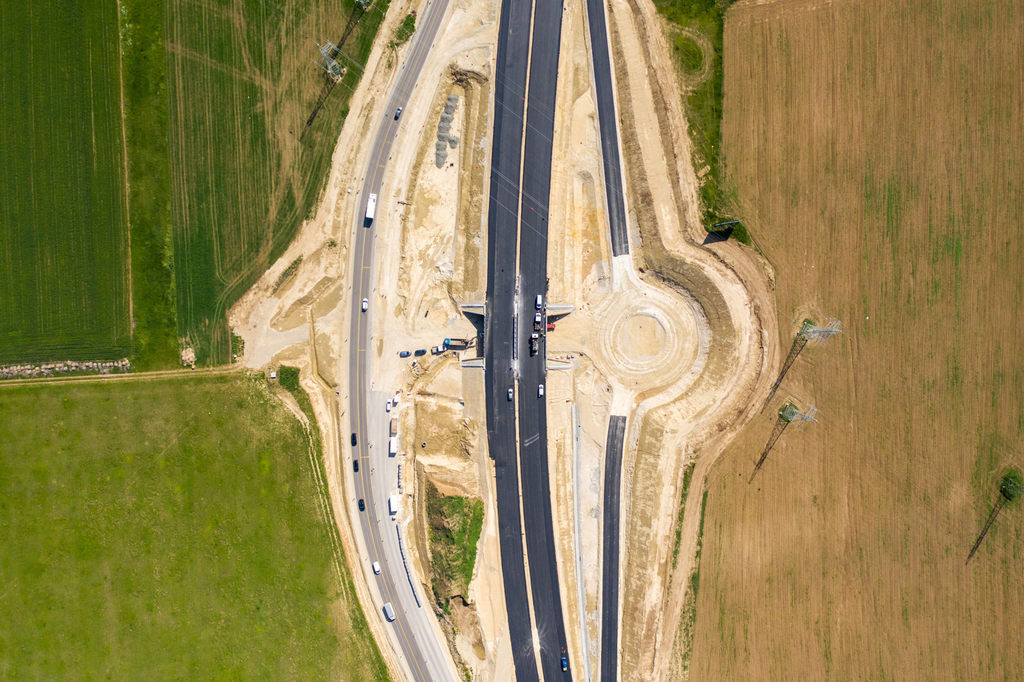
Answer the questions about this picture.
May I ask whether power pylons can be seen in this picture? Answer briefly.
Yes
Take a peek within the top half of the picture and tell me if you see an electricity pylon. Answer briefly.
Yes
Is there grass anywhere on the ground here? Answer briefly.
Yes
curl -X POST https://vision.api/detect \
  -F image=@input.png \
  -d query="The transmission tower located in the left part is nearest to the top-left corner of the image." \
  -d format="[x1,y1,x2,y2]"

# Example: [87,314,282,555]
[309,34,346,80]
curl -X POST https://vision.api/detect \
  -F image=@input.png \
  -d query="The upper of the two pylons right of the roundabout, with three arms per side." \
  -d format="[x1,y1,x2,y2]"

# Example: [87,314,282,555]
[797,313,851,349]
